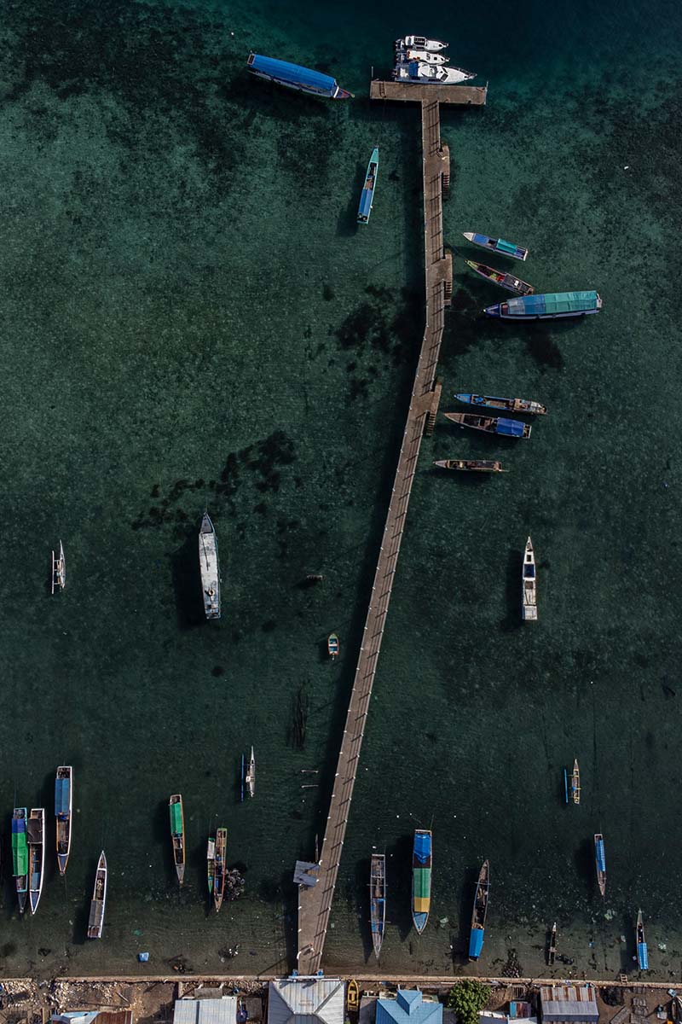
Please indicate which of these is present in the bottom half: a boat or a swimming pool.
boat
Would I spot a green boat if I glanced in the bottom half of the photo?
Yes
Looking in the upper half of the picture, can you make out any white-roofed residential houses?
No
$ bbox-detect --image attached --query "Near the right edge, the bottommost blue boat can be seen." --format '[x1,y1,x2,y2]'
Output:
[637,910,650,971]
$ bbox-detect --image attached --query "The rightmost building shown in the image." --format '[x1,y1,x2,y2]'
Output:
[540,986,599,1024]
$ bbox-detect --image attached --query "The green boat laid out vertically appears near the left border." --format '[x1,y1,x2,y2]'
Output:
[11,774,29,911]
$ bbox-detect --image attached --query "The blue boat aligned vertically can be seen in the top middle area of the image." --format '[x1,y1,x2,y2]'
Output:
[357,148,378,225]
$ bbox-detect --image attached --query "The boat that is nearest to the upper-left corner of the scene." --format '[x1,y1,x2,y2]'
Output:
[245,55,354,102]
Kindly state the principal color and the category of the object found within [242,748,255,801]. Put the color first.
white boat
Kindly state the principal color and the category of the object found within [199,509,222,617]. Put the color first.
white boat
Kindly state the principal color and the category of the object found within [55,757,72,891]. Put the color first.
blue boat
